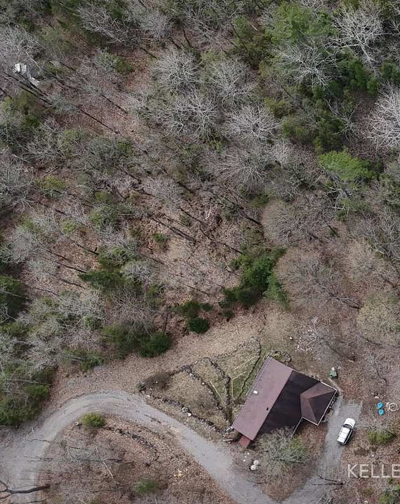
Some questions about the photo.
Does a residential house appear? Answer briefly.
Yes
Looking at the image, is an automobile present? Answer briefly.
Yes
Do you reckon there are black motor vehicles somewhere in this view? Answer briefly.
No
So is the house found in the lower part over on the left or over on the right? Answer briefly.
right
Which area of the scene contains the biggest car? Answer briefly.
bottom right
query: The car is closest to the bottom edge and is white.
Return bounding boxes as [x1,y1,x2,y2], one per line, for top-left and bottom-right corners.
[332,417,358,449]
